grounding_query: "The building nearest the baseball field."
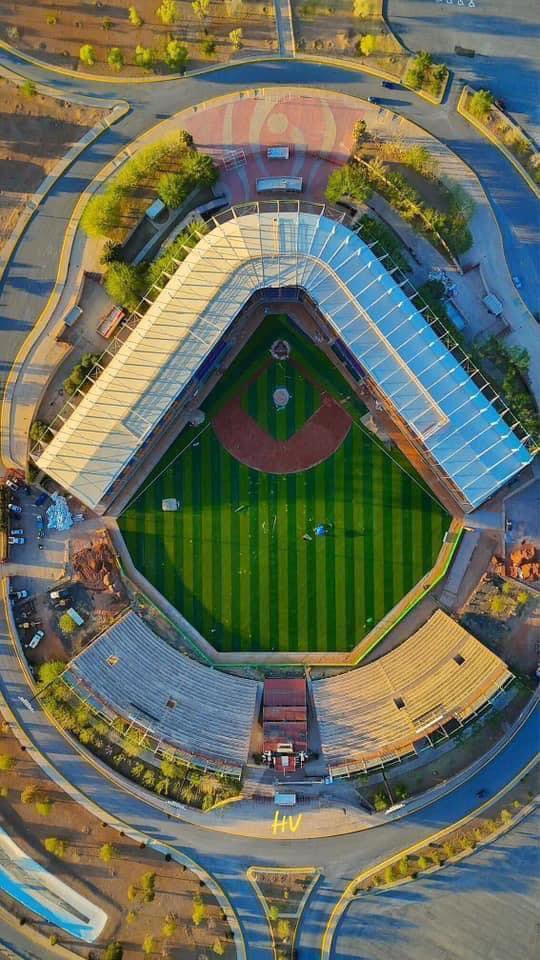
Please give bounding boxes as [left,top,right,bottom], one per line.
[262,672,308,778]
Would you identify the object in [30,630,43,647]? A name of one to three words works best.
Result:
vehicle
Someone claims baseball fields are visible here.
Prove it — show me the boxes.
[103,304,468,665]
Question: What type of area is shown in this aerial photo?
sports ground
